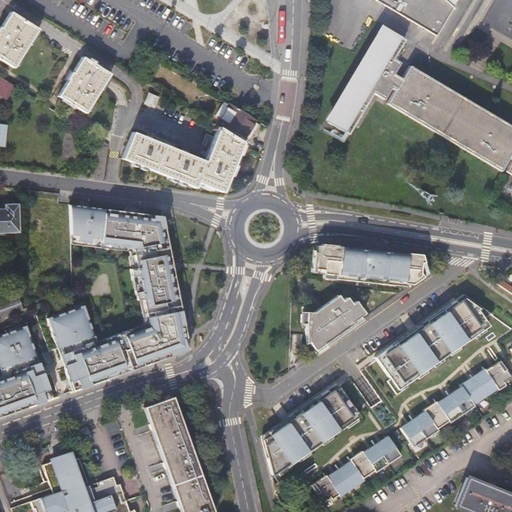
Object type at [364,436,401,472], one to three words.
house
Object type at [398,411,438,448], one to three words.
house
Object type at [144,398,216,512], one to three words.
building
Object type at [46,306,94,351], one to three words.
building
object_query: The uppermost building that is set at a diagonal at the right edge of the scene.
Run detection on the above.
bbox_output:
[386,67,512,176]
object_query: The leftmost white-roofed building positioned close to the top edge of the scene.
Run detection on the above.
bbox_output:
[0,11,41,72]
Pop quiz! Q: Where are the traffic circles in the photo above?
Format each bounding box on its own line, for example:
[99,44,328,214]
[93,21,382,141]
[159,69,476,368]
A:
[228,192,302,264]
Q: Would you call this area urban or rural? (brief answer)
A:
urban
